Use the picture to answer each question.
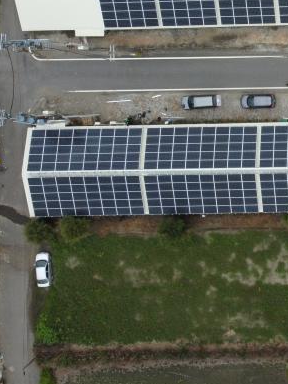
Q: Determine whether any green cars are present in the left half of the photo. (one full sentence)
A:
No, no green car can be made out in the left half of the photo.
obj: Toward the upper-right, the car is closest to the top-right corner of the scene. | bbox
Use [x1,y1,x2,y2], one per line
[241,93,276,110]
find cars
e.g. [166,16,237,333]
[33,250,53,288]
[183,93,222,110]
[241,93,276,110]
